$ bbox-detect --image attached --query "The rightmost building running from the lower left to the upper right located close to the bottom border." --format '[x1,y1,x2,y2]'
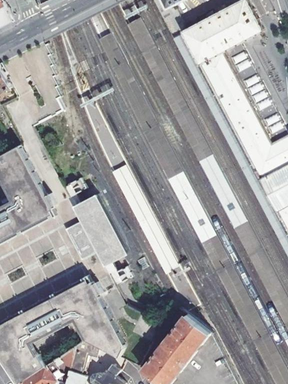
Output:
[140,312,213,384]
